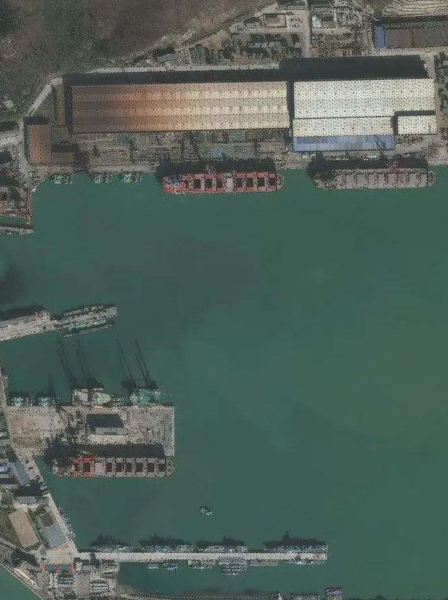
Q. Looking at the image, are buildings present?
Yes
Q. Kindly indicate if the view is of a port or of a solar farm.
port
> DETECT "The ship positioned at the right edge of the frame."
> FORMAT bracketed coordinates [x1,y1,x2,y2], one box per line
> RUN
[315,168,437,189]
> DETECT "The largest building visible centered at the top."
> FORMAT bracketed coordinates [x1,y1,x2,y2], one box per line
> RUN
[73,80,289,132]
